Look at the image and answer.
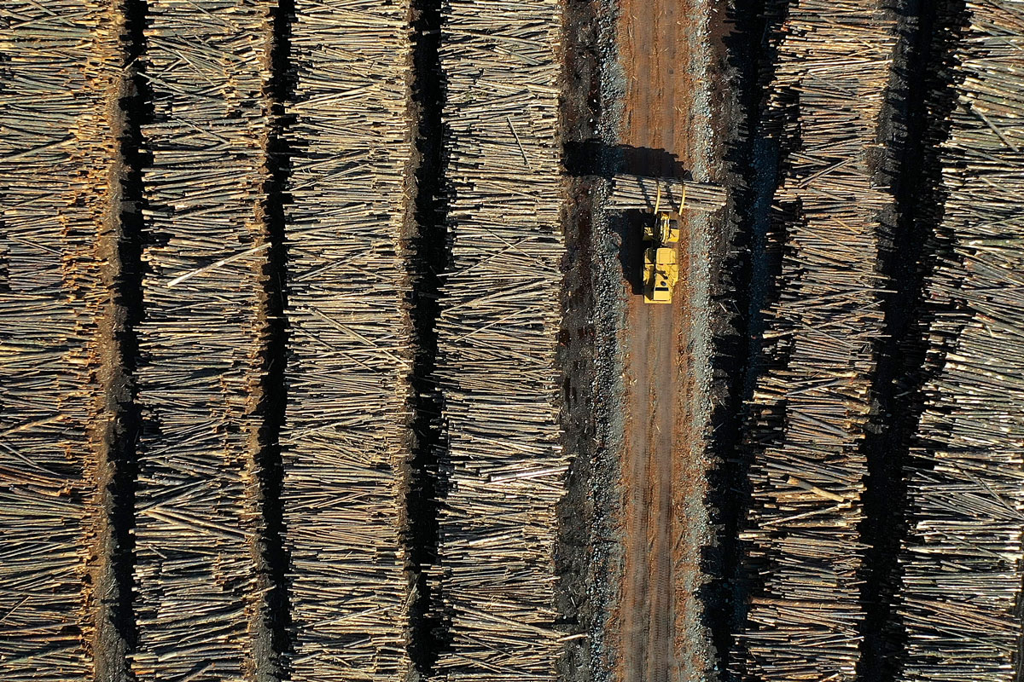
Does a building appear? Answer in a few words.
No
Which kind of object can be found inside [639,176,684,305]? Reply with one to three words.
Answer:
work vehicle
